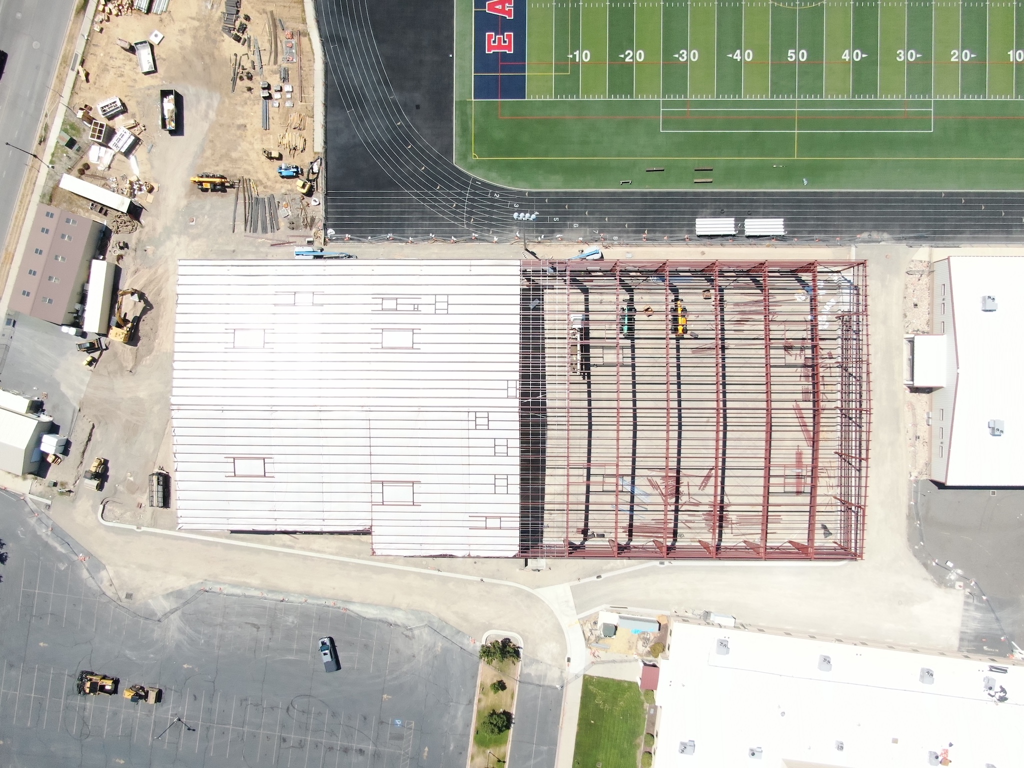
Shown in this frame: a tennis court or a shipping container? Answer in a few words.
shipping container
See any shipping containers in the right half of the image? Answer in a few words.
No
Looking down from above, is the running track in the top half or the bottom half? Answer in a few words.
top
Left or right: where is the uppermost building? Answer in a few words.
left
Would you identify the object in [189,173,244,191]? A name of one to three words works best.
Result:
work vehicle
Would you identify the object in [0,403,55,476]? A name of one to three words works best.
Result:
shed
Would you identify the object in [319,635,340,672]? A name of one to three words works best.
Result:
truck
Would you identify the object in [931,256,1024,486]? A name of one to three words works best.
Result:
building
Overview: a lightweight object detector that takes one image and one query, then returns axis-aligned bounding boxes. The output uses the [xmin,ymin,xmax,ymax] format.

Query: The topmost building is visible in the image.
[7,203,105,326]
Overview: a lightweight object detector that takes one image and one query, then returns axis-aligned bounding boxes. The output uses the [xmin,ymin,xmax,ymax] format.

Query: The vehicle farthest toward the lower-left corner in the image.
[125,685,162,703]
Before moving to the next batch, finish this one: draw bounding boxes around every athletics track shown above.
[315,0,1024,246]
